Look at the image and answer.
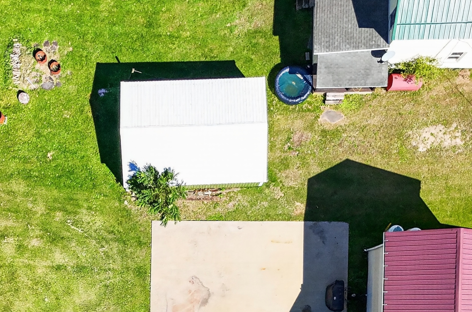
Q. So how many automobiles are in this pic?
zero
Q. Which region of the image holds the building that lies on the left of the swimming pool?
center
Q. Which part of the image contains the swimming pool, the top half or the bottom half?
top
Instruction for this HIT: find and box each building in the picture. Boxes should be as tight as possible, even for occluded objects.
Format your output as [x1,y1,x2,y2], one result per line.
[283,0,472,109]
[120,77,269,194]
[363,228,472,312]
